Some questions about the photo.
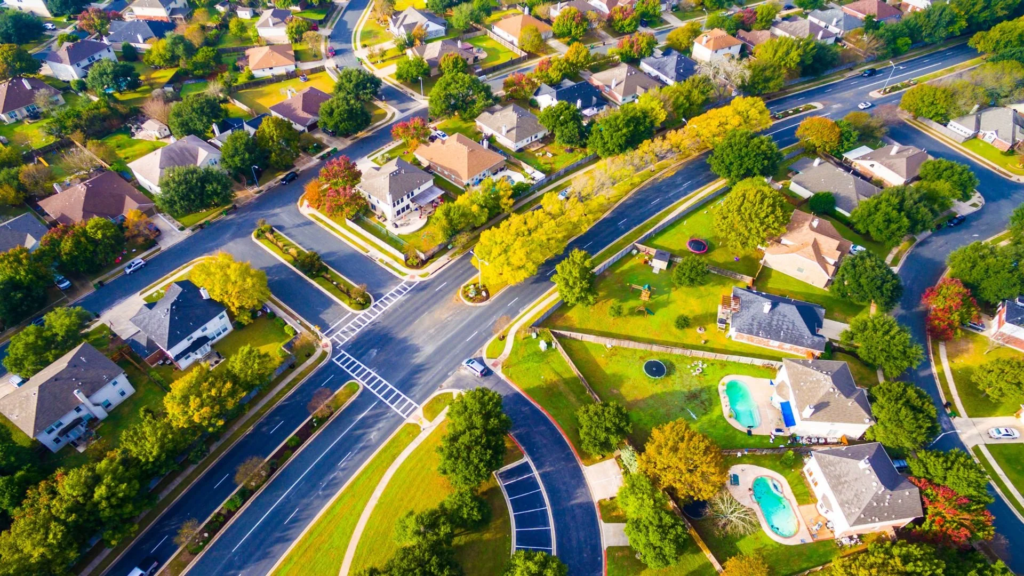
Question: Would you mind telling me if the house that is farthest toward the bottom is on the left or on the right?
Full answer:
The house that is farthest toward the bottom sits on the right side.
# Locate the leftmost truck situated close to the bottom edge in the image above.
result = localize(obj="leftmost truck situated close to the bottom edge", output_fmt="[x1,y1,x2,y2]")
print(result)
[124,550,158,576]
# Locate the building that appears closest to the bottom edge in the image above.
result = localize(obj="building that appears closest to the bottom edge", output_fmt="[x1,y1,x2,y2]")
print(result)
[805,442,924,539]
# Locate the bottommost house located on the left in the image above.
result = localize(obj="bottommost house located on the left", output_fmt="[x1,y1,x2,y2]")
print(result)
[0,344,133,456]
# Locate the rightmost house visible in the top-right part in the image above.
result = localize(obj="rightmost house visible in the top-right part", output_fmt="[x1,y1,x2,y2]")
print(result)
[948,106,1024,154]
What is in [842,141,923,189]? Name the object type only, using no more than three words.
house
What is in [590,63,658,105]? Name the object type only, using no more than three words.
house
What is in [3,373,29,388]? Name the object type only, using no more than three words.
car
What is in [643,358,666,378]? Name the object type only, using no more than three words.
trampoline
